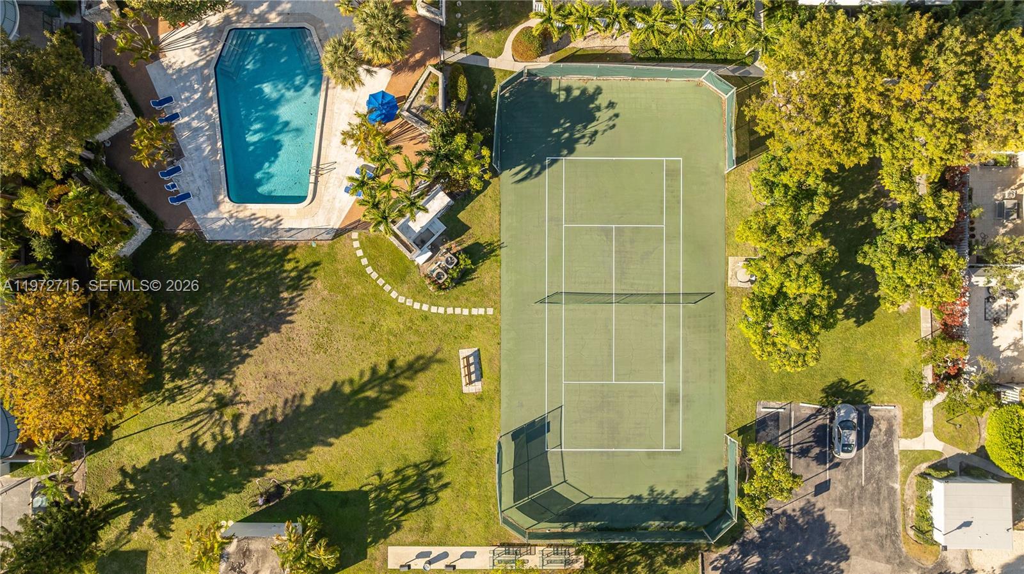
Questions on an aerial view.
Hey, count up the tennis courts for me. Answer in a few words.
1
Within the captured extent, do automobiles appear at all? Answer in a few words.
Yes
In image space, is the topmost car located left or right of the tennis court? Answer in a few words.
right of it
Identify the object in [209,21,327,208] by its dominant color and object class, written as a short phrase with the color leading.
blue swimming pool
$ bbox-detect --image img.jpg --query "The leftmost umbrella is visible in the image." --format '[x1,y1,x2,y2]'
[367,92,399,122]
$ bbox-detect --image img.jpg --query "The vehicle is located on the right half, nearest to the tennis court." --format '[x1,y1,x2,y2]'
[831,404,860,461]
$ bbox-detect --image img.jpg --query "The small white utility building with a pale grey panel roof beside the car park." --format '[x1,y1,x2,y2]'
[930,477,1015,551]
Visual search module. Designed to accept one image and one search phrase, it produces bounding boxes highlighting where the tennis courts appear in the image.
[500,78,726,530]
